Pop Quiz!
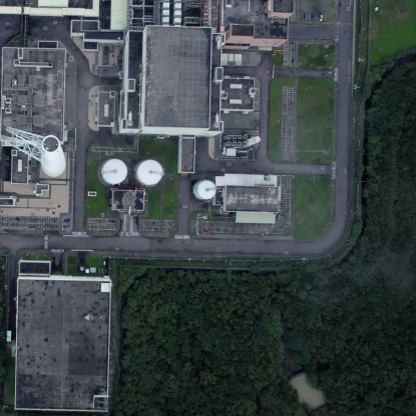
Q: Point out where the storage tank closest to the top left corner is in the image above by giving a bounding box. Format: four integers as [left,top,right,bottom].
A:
[96,157,128,189]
